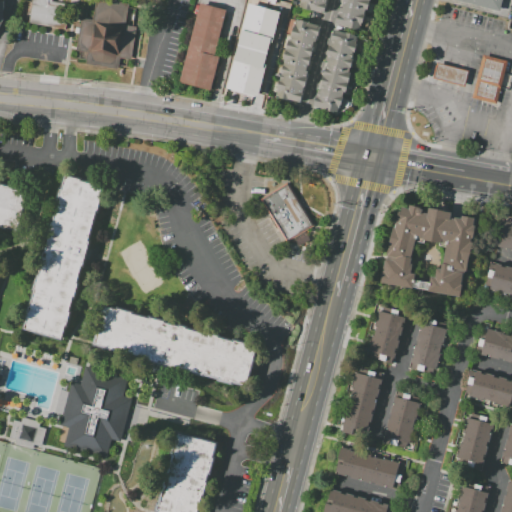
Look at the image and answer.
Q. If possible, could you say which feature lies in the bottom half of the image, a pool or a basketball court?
pool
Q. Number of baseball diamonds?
none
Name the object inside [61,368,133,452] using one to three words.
building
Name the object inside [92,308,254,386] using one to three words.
building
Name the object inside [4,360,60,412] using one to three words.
swimming pool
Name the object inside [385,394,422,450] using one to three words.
house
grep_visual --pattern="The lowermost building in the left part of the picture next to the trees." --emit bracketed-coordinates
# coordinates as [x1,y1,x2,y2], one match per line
[154,434,217,512]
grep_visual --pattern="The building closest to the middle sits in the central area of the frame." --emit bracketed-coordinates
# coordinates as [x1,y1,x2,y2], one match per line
[264,184,314,246]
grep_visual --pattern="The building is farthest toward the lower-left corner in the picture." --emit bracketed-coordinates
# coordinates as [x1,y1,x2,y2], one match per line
[10,418,47,449]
